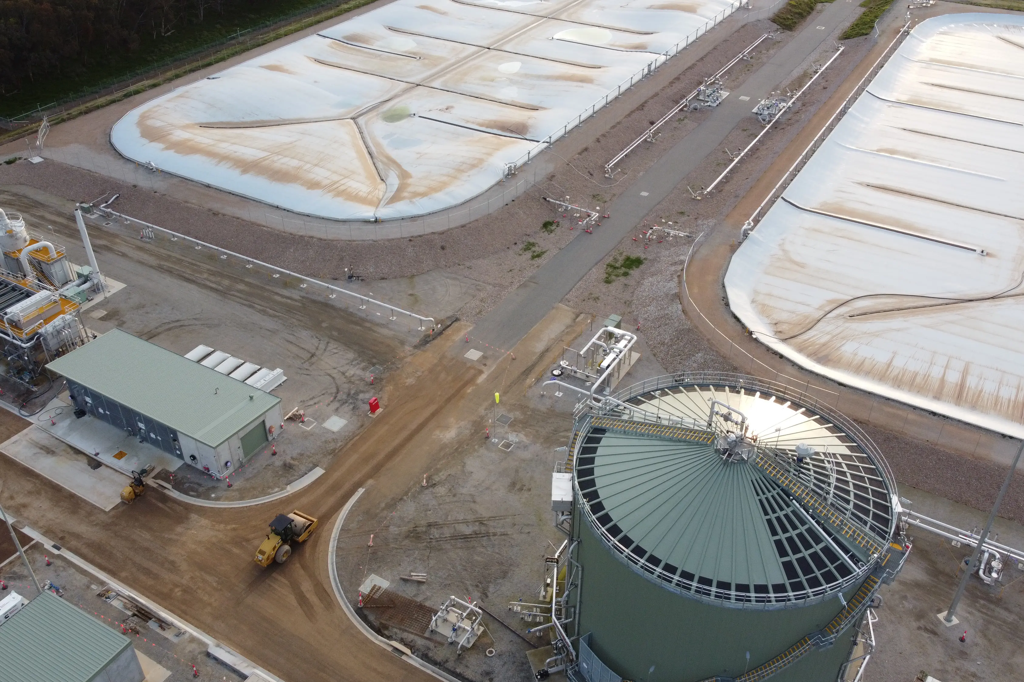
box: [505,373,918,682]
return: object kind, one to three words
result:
storage tank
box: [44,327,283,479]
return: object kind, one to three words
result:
building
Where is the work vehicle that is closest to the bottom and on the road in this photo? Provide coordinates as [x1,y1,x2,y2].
[253,504,322,571]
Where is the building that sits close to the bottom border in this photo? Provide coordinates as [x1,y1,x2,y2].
[0,587,136,682]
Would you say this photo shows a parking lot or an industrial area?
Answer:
industrial area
